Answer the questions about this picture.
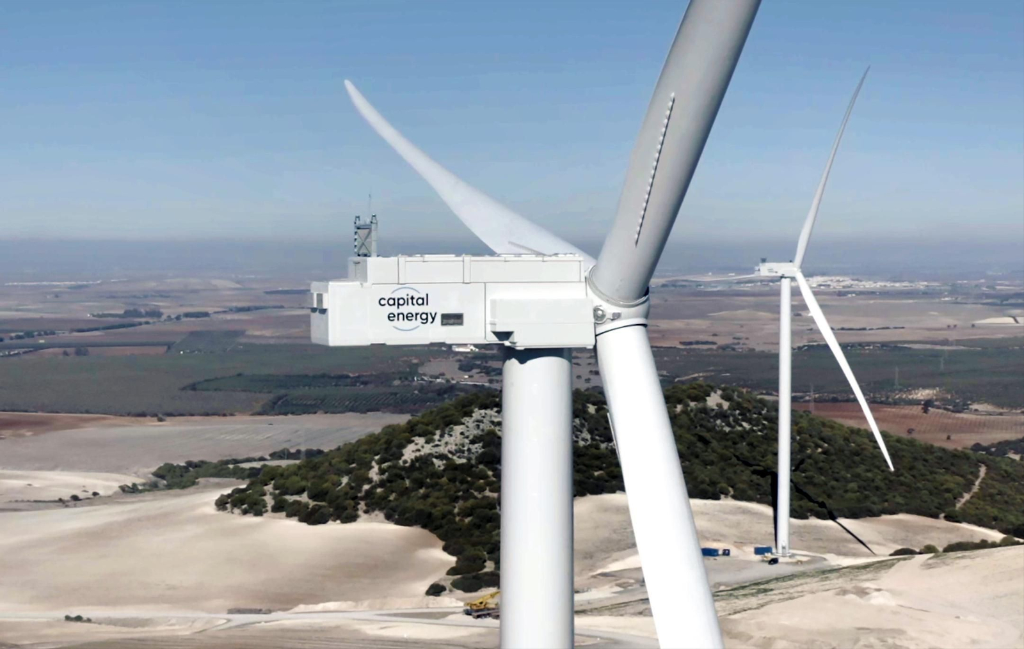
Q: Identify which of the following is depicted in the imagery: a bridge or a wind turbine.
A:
wind turbine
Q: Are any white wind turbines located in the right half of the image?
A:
Yes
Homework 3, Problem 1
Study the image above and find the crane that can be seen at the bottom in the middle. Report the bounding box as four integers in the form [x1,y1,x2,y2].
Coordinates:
[458,590,502,616]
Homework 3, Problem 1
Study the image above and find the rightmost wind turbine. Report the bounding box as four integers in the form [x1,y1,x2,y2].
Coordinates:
[684,64,893,556]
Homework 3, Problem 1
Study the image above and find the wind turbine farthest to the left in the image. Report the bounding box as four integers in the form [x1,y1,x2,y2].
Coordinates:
[304,0,760,649]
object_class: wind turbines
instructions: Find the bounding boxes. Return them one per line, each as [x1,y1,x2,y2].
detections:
[304,0,760,649]
[684,64,893,556]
